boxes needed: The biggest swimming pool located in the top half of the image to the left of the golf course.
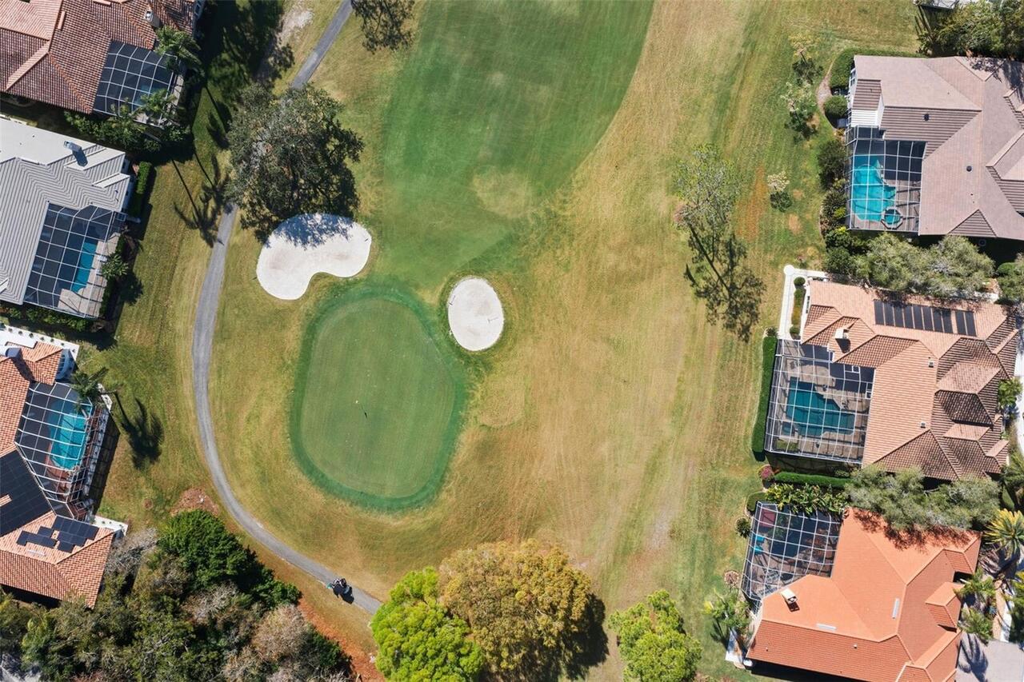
[52,234,101,293]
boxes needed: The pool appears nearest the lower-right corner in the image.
[771,511,819,558]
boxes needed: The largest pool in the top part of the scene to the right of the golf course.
[851,153,900,224]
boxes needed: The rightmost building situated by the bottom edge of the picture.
[742,508,981,682]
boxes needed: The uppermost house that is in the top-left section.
[0,0,214,115]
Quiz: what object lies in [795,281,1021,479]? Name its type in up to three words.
house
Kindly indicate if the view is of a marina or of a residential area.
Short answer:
residential area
